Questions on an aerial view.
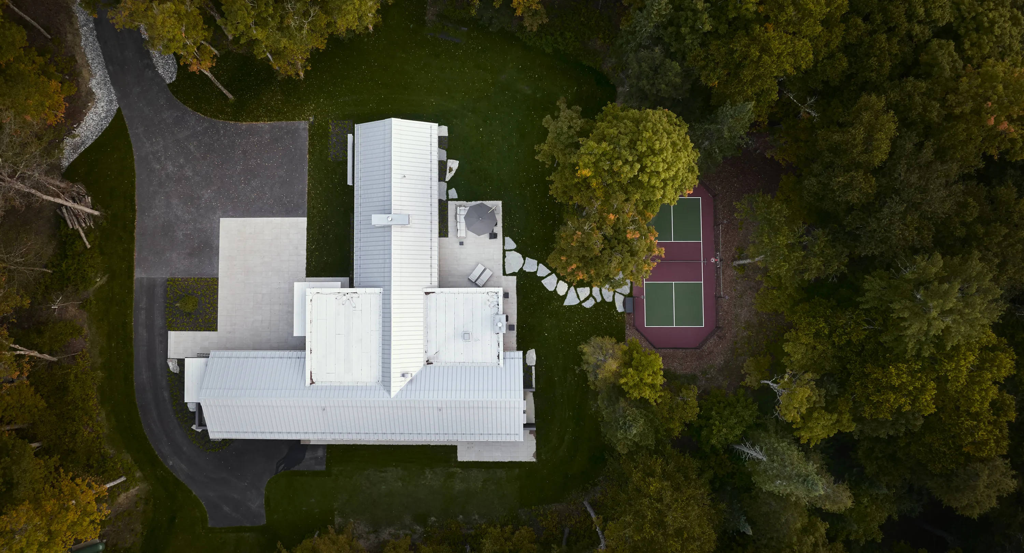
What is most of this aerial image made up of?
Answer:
trees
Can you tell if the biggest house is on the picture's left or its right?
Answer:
left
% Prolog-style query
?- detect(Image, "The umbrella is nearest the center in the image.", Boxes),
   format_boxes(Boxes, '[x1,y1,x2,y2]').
[464,202,500,236]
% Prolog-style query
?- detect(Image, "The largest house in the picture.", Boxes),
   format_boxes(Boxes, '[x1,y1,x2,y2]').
[185,117,524,441]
